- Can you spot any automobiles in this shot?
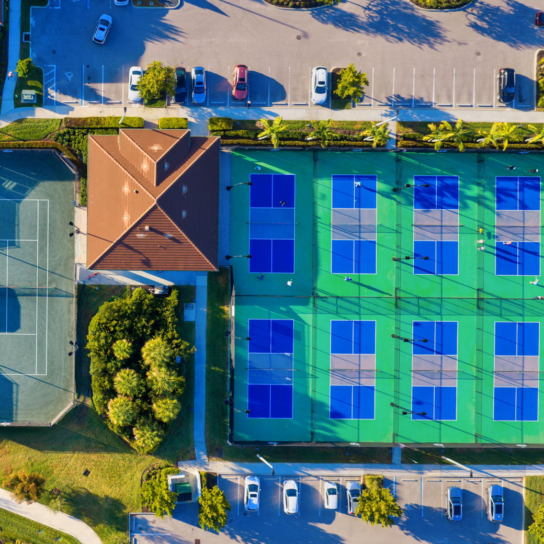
Yes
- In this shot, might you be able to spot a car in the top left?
Yes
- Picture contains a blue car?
Yes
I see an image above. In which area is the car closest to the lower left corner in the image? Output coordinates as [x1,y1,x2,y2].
[244,475,262,512]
